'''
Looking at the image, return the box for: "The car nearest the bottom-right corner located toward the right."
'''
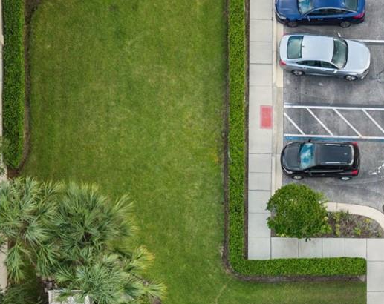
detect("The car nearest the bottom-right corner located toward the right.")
[276,131,362,178]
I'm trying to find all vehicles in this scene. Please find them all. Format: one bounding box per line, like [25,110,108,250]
[276,131,362,178]
[273,0,364,22]
[280,28,372,75]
